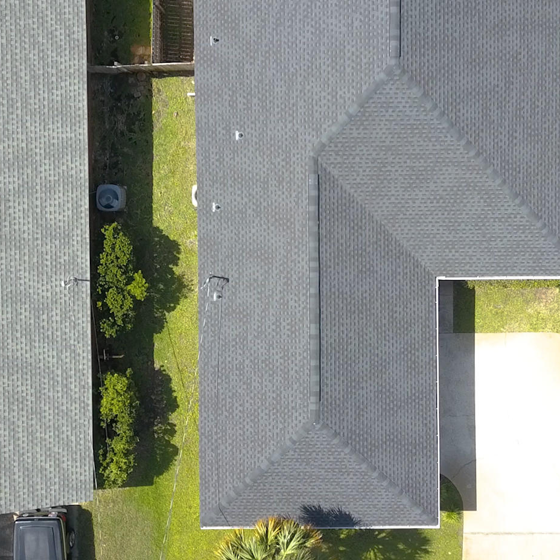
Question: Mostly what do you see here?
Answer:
buildings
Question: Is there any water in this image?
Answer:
No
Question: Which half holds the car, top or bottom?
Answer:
bottom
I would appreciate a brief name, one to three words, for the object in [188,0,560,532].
house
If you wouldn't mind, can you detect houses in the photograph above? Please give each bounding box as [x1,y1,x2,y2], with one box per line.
[188,0,560,532]
[0,0,97,512]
